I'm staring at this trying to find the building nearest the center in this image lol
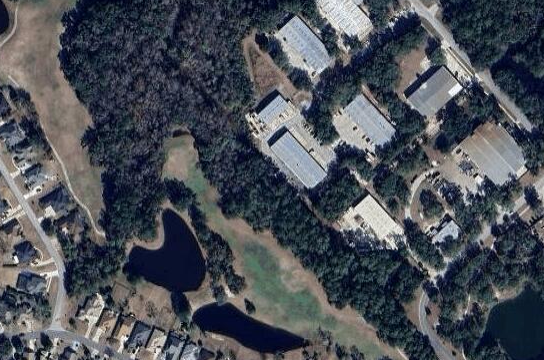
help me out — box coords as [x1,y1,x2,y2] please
[271,130,326,189]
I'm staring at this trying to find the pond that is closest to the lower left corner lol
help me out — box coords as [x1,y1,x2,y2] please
[120,206,208,295]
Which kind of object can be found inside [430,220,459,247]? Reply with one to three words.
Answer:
building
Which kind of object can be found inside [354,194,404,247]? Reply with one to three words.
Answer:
building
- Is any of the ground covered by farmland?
No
